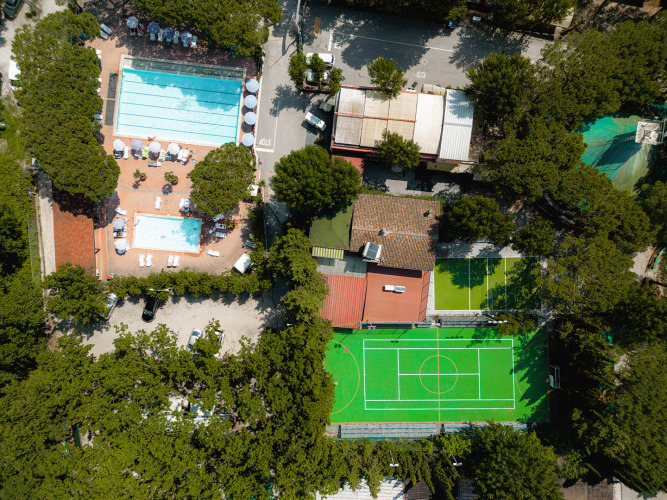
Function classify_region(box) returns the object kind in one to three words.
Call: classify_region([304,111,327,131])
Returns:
vehicle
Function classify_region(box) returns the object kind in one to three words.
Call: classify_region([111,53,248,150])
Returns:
swimming pool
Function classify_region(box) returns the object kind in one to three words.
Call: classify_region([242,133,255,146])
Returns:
umbrella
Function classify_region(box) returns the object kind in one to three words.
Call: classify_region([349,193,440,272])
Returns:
house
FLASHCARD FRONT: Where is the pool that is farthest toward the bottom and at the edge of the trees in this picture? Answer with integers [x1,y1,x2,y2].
[129,210,205,256]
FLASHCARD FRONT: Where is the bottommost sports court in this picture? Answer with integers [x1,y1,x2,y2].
[321,327,550,423]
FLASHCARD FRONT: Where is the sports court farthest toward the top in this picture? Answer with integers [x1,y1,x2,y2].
[435,258,541,310]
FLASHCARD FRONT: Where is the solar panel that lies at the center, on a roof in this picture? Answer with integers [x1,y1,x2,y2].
[362,241,384,262]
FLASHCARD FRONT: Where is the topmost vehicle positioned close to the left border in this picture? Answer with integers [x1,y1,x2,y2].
[2,0,22,20]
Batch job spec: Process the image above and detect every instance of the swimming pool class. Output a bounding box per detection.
[111,53,248,150]
[129,210,205,256]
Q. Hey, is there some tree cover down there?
Yes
